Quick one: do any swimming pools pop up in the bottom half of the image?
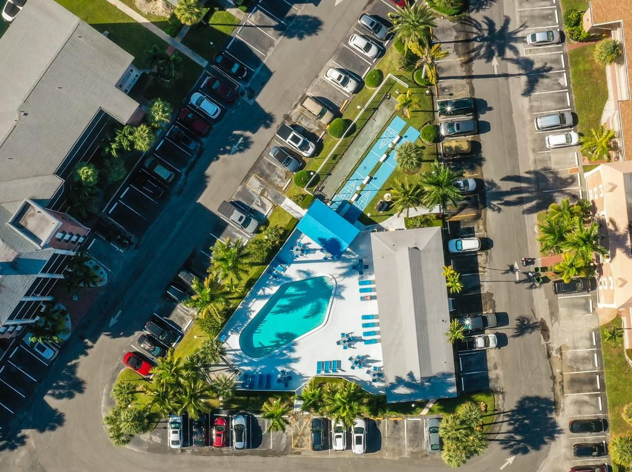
Yes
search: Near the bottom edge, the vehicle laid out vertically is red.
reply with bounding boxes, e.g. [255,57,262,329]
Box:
[211,415,227,450]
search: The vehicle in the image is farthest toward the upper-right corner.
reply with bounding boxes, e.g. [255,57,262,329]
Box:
[525,29,561,47]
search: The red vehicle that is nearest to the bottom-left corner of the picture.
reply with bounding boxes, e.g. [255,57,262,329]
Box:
[122,349,153,378]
